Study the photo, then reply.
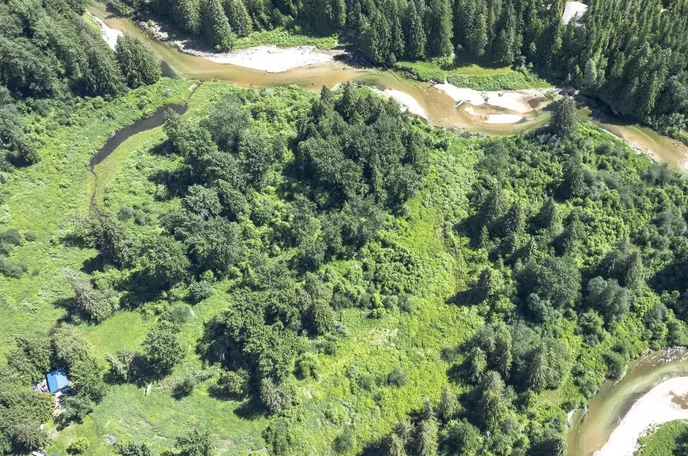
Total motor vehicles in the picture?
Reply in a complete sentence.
No motor vehicles are visible.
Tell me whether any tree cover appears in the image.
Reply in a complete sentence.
Yes, tree cover can be seen from above here.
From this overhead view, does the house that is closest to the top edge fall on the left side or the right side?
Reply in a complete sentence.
It is on the right.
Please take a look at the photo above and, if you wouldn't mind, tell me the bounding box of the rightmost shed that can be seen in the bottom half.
[47,369,73,398]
